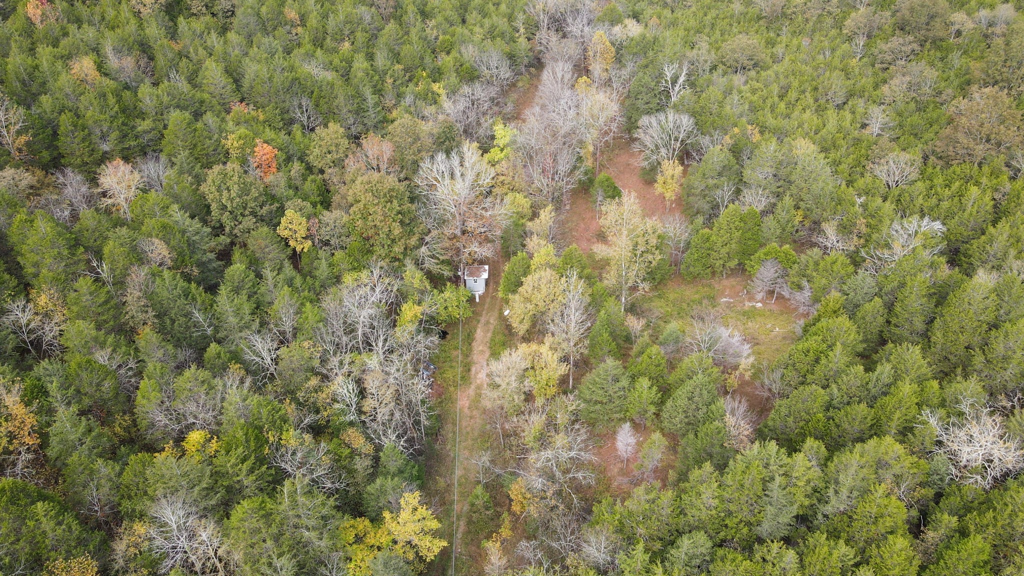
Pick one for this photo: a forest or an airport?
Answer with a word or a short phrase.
forest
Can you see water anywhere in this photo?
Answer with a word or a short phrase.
No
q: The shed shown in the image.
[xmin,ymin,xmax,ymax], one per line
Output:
[463,260,489,291]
